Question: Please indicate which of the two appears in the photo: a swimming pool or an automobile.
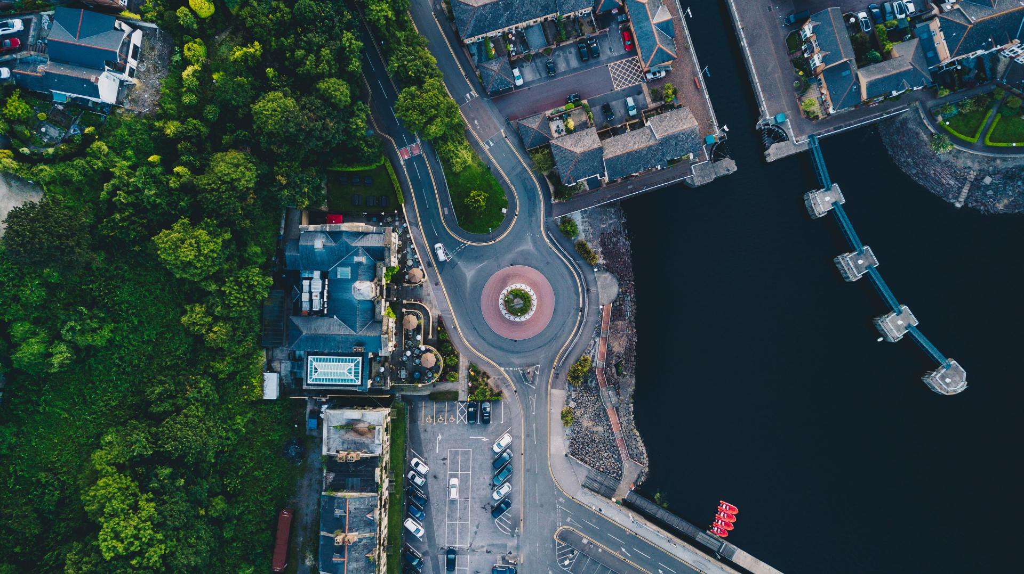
automobile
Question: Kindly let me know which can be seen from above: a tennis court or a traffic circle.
traffic circle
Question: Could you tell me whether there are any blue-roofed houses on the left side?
Yes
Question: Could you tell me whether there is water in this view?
Yes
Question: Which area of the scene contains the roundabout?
center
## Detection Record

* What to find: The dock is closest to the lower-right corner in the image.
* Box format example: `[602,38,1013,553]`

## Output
[719,535,787,574]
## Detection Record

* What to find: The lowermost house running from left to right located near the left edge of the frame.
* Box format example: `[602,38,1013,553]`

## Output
[13,60,115,103]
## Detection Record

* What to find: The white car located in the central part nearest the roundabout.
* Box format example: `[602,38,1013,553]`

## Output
[434,241,447,263]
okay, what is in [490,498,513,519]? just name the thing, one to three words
car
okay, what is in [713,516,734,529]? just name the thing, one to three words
boat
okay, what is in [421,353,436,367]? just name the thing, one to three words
umbrella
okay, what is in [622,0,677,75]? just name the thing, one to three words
house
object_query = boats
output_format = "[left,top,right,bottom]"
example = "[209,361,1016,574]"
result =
[716,508,736,521]
[713,516,734,529]
[710,524,729,536]
[718,500,739,514]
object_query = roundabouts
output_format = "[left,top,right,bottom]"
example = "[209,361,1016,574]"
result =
[480,265,555,340]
